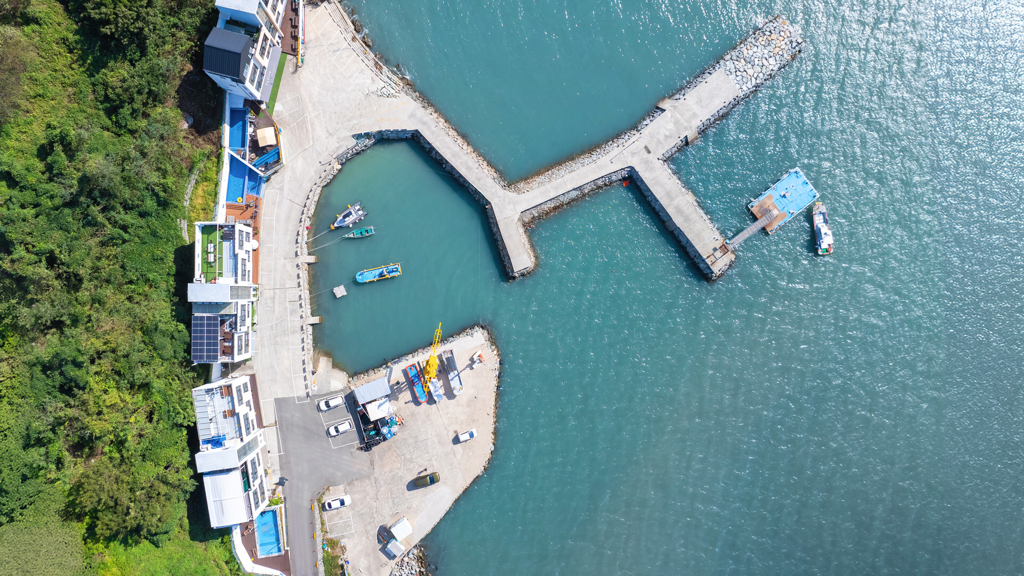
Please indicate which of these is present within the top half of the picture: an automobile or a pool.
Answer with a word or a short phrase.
pool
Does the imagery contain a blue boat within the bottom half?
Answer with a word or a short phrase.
Yes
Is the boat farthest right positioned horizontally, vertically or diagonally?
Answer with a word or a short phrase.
vertically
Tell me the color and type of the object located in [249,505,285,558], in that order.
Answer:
blue swimming pool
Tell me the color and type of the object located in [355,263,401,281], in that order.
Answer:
blue boat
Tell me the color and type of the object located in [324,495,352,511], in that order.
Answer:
white car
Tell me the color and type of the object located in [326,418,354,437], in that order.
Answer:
white car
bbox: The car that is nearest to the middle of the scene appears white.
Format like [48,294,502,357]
[458,428,478,442]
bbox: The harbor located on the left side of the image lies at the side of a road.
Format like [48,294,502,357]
[297,130,501,576]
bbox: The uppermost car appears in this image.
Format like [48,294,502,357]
[317,393,345,412]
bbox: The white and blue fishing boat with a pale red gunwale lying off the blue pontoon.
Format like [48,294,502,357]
[810,203,833,254]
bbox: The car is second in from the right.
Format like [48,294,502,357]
[414,472,440,488]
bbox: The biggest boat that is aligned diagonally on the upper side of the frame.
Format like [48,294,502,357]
[331,198,372,229]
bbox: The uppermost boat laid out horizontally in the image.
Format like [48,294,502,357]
[343,225,376,238]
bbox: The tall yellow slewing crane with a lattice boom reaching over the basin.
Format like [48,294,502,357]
[422,323,444,392]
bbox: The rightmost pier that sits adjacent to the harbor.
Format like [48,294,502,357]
[401,14,806,283]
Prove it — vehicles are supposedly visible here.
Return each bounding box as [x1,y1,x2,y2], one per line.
[317,393,345,412]
[414,472,440,488]
[458,428,478,442]
[324,495,352,511]
[326,418,354,437]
